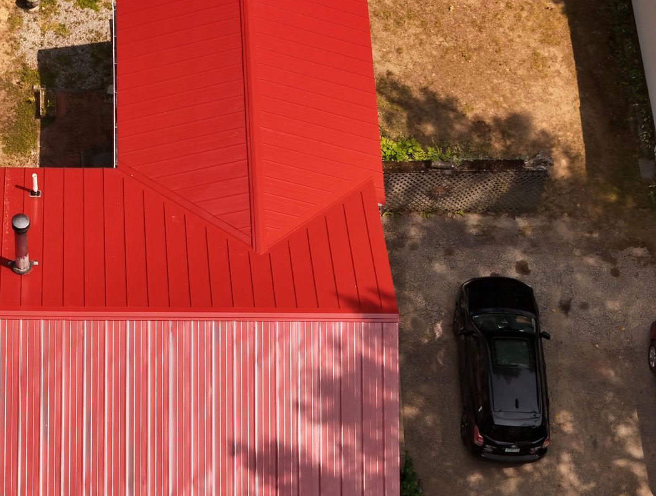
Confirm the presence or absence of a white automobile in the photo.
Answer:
No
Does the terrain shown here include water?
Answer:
No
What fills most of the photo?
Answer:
buildings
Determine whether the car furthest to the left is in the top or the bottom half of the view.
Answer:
bottom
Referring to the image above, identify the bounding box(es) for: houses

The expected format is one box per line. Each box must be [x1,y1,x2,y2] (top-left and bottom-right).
[0,0,401,496]
[634,0,656,188]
